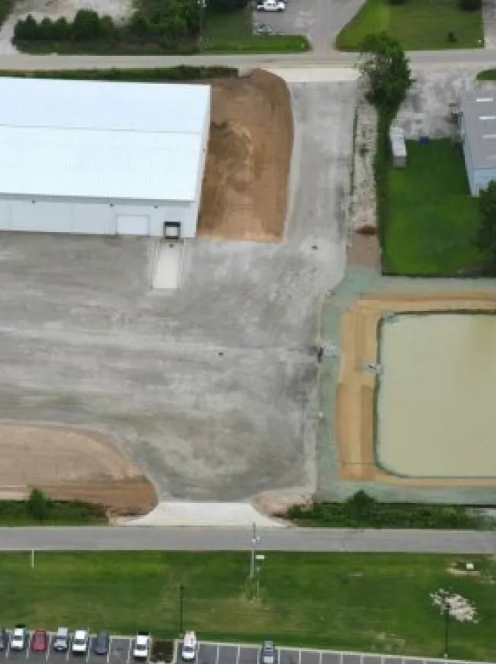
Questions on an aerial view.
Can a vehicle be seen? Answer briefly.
Yes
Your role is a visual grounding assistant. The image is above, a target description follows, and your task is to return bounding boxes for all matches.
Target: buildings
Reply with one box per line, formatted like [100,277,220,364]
[449,86,496,196]
[0,76,210,242]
